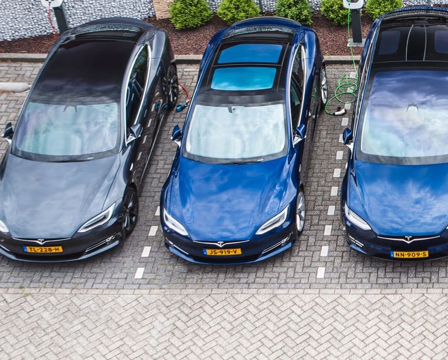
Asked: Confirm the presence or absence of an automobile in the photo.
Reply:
Yes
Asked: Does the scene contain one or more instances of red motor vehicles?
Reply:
No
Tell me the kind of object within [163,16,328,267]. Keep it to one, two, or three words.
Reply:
car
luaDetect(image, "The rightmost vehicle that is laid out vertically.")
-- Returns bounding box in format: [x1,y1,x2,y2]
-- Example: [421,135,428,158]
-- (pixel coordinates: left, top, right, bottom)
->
[339,3,448,264]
